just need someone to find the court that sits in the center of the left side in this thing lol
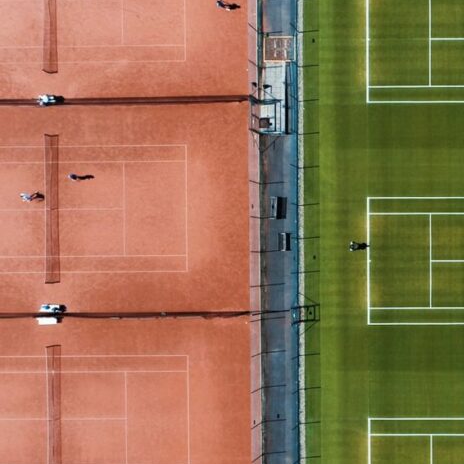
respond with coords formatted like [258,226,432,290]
[0,144,189,273]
